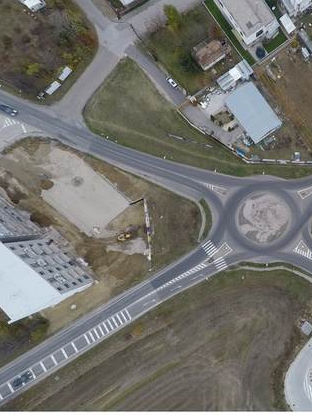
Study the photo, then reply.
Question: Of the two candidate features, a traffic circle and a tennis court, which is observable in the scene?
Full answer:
I can see a traffic circle in this picture.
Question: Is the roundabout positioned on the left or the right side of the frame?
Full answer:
The roundabout appears in the right half of the scene.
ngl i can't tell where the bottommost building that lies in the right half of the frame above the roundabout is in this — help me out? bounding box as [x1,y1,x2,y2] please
[224,81,281,147]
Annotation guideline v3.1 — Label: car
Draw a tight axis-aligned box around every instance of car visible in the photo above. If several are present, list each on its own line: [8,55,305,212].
[165,76,179,90]
[13,371,34,387]
[0,104,19,116]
